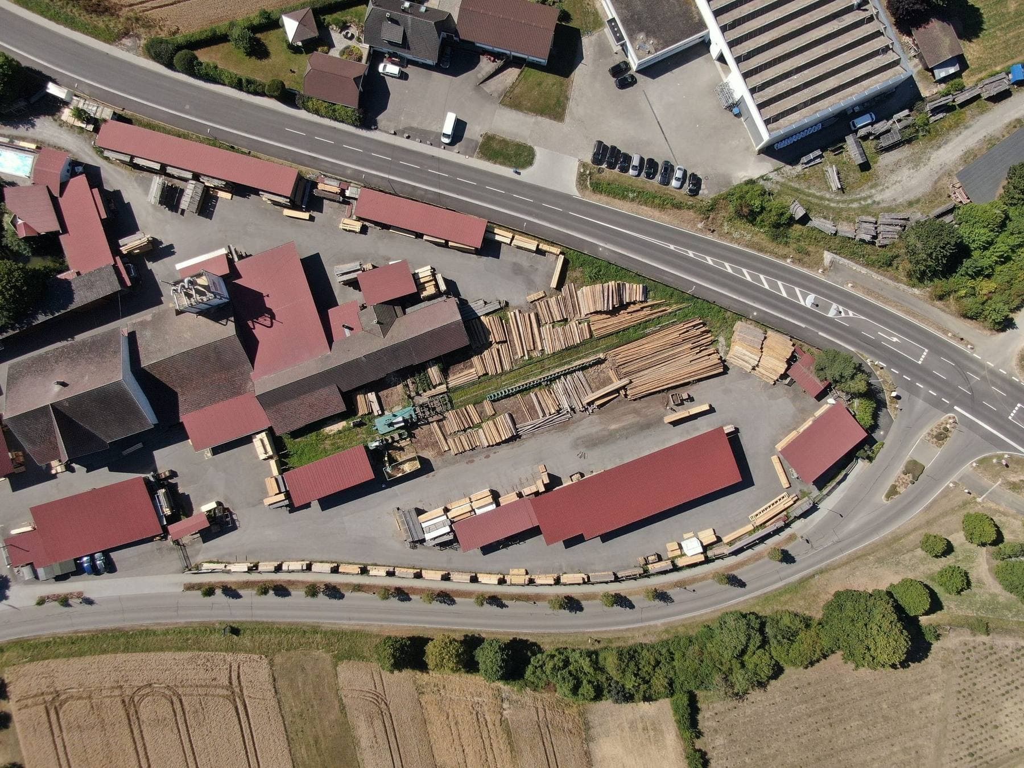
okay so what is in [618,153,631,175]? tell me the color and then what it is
black vehicle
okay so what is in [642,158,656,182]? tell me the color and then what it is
black car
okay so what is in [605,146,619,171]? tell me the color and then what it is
black car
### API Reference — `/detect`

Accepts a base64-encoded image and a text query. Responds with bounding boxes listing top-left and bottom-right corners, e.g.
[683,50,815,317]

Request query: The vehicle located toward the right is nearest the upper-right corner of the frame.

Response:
[847,112,877,131]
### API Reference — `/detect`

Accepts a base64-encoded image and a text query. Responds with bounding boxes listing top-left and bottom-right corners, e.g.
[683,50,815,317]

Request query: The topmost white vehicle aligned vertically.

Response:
[442,112,457,145]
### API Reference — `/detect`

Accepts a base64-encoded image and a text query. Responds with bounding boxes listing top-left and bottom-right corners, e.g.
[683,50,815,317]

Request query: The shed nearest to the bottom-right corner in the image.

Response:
[772,401,867,484]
